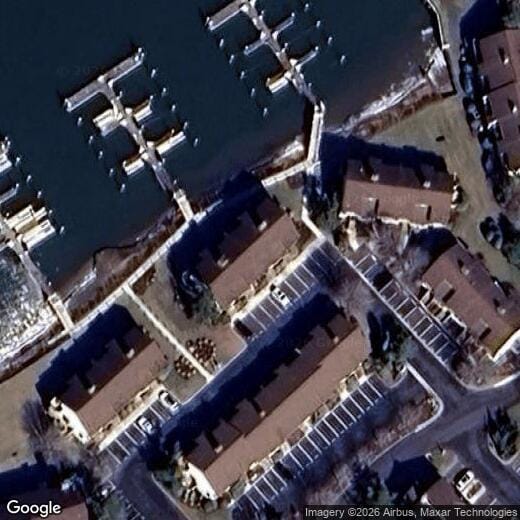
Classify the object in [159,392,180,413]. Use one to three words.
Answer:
car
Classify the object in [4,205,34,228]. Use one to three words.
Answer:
boat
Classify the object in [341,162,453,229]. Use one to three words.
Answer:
building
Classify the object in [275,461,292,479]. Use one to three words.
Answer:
car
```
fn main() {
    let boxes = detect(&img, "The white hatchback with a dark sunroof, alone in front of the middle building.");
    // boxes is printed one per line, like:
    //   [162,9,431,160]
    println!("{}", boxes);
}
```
[272,285,292,306]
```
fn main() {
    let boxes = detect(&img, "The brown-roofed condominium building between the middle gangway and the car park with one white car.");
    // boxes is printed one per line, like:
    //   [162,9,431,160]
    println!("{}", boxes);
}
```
[196,205,305,319]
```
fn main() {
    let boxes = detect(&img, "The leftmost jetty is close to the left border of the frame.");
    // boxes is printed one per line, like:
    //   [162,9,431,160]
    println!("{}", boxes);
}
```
[0,191,54,301]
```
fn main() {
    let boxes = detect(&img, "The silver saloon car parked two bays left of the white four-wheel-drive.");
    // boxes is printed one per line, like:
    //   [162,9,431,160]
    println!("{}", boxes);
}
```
[139,416,158,436]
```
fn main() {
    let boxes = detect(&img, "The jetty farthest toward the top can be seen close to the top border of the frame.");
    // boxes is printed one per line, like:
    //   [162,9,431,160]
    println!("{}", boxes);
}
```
[208,0,318,110]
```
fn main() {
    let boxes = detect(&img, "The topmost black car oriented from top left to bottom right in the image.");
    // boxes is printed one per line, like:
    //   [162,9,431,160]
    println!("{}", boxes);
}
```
[235,318,254,338]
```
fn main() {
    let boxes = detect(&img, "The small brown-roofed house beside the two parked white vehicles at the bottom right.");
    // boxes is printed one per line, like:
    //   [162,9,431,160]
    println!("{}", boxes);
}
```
[413,474,469,520]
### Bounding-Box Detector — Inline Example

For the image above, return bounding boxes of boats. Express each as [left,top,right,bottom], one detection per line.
[0,156,12,172]
[93,108,119,127]
[131,102,151,117]
[421,29,433,37]
[268,73,287,87]
[32,206,49,220]
[4,205,34,228]
[153,136,177,152]
[124,154,144,169]
[20,222,54,248]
